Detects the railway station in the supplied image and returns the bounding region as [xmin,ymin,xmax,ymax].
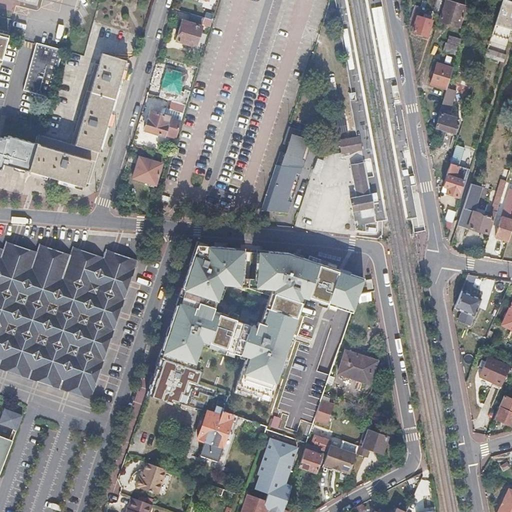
[337,0,426,232]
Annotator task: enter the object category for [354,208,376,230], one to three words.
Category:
building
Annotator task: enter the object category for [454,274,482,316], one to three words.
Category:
house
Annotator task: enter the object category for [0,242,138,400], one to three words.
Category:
building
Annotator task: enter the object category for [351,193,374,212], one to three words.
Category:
house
